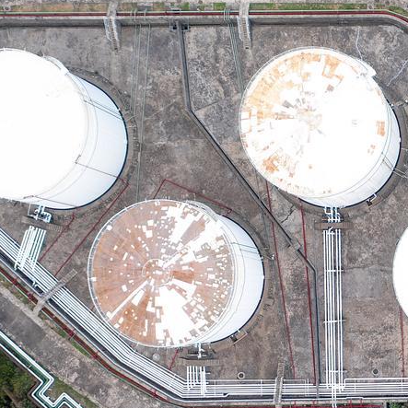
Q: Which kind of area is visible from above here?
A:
industrial area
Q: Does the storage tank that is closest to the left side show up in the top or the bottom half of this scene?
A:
top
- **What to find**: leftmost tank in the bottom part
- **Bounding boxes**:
[82,194,271,353]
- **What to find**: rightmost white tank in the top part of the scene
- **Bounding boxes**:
[235,42,406,216]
